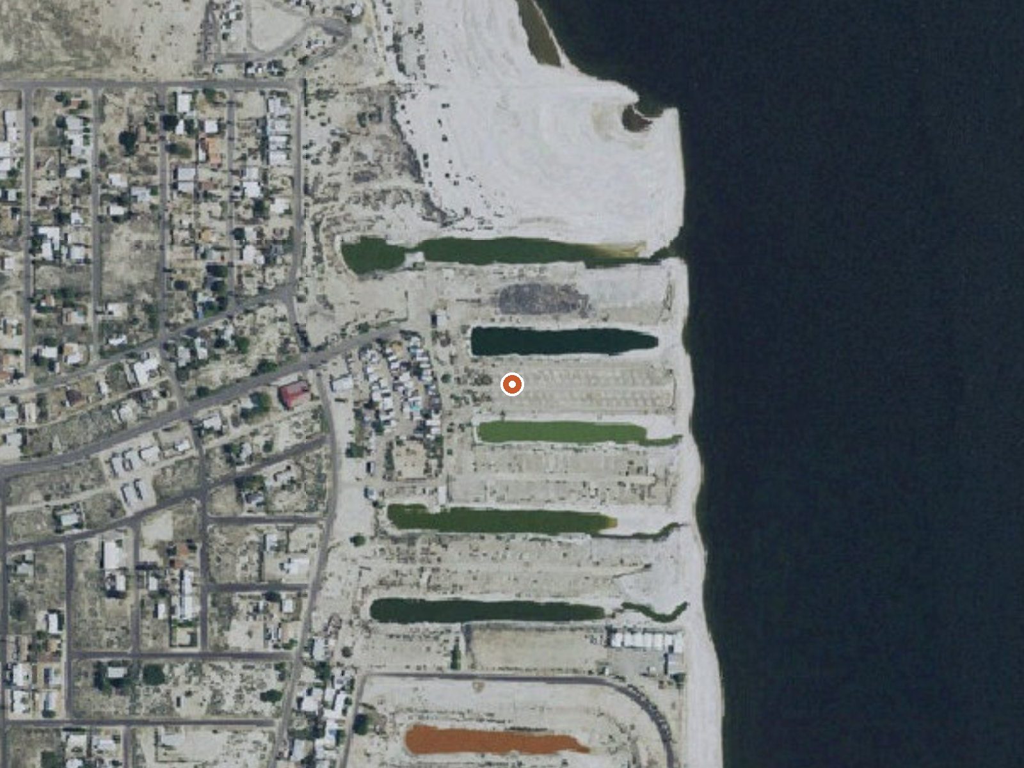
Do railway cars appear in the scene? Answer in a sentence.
No, no railway car can be seen from above.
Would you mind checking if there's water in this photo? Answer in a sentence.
Yes, there's water in this view.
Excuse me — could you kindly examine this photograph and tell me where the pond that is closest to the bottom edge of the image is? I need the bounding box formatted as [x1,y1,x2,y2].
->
[406,724,590,754]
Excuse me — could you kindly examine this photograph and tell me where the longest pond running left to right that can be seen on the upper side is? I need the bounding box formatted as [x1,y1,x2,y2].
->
[341,237,662,273]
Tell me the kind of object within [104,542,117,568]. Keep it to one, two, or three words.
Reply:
house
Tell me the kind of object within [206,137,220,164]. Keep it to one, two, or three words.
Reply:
house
